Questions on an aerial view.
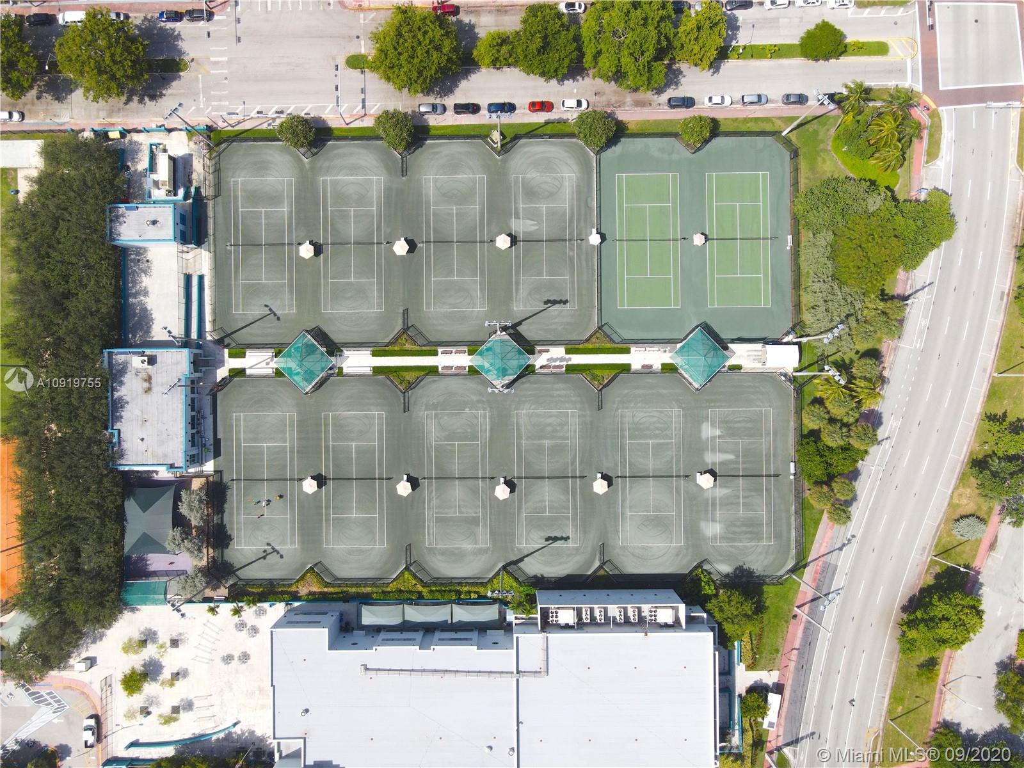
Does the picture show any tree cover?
Yes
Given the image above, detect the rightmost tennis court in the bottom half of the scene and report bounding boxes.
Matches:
[695,374,794,573]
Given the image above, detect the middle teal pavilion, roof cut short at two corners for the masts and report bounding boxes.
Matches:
[472,330,532,388]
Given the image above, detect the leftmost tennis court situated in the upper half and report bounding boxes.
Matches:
[211,143,307,344]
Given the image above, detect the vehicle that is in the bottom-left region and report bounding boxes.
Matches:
[82,715,99,749]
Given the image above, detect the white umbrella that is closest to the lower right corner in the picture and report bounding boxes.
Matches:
[698,471,713,488]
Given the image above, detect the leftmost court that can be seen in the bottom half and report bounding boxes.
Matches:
[215,378,311,578]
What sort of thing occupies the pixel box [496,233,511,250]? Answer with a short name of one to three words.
umbrella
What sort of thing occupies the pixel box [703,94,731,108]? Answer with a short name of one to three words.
car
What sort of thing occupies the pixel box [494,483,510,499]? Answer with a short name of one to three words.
umbrella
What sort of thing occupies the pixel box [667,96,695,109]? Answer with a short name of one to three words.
vehicle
